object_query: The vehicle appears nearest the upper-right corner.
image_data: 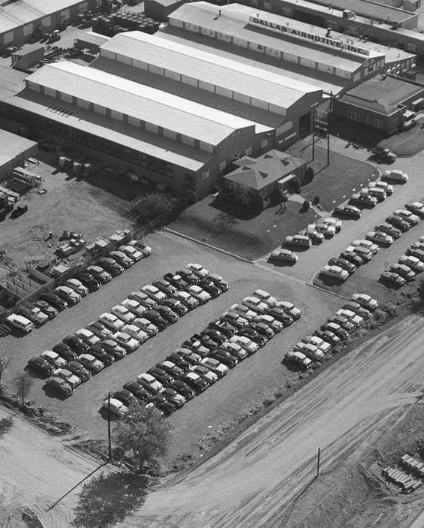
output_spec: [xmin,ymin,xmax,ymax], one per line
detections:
[367,149,400,163]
